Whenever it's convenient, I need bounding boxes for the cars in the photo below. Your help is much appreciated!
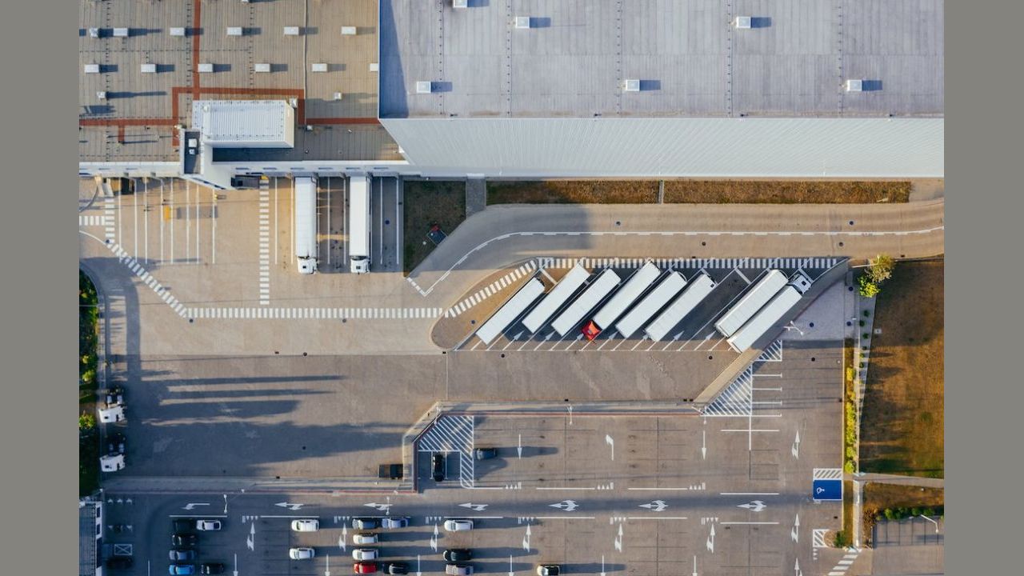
[537,563,559,576]
[355,561,378,575]
[174,518,199,532]
[447,562,473,576]
[385,561,409,575]
[475,447,497,460]
[292,518,320,532]
[432,452,445,481]
[203,561,226,575]
[172,547,197,561]
[354,546,379,560]
[383,516,408,529]
[171,562,196,576]
[445,518,473,532]
[172,533,198,546]
[291,546,316,560]
[354,532,378,546]
[354,517,379,530]
[445,547,472,561]
[198,518,222,531]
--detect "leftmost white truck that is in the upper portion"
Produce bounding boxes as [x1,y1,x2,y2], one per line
[296,178,318,275]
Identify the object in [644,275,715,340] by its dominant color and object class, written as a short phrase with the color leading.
white trailer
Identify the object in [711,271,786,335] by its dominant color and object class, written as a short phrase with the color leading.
white trailer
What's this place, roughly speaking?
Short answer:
industrial area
